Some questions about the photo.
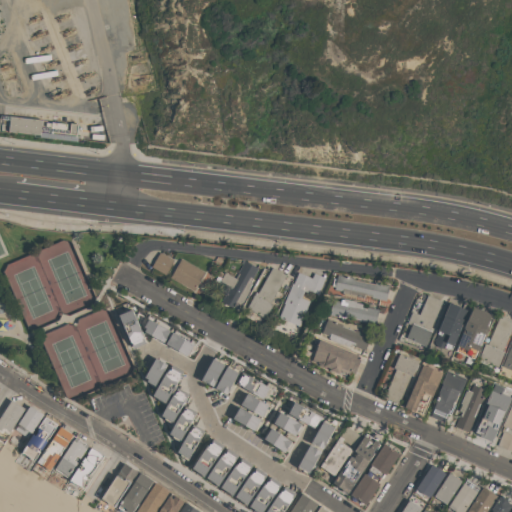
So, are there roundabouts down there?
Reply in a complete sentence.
No, no roundabout is visible in the scene.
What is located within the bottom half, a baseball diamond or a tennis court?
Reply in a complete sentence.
There is a tennis court within the bottom half.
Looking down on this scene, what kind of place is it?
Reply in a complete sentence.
This looks like a residential area.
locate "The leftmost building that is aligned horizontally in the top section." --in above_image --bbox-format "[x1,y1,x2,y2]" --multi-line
[10,116,44,136]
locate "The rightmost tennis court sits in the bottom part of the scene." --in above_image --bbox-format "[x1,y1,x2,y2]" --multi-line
[76,310,128,382]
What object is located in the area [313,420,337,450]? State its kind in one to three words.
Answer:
house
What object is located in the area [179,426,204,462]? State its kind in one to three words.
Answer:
house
